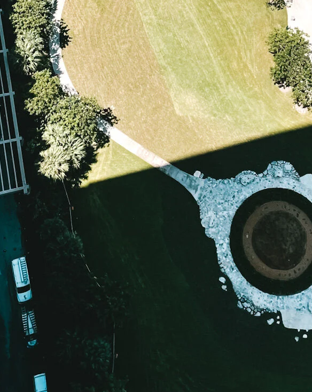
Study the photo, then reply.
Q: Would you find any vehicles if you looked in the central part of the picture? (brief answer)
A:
No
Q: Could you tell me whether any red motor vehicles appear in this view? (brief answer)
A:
No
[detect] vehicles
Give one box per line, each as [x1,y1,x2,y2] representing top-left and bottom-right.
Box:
[31,369,49,392]
[10,255,33,308]
[17,310,41,356]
